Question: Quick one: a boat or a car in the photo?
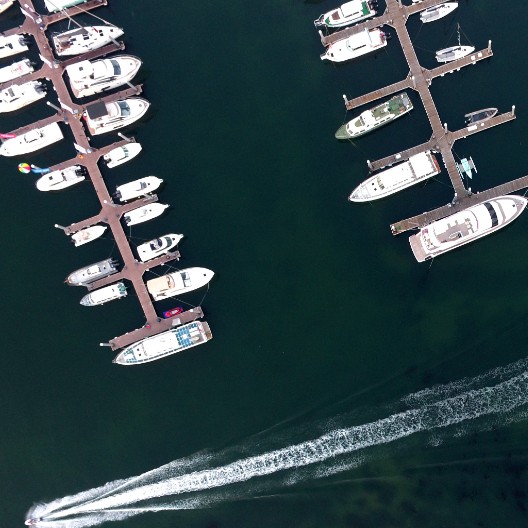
boat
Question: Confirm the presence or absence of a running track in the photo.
No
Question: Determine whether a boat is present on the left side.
Yes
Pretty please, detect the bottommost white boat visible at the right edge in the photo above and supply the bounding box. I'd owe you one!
[412,195,528,261]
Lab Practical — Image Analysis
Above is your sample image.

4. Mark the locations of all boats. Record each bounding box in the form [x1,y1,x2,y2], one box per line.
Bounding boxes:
[71,226,107,246]
[124,204,170,227]
[421,2,458,24]
[463,109,497,126]
[138,233,185,262]
[86,98,151,136]
[109,322,213,365]
[115,178,163,201]
[436,31,475,62]
[0,37,33,59]
[163,305,183,318]
[0,124,67,156]
[105,144,143,169]
[0,81,51,112]
[318,1,378,25]
[79,283,131,305]
[412,195,528,261]
[46,0,84,12]
[48,0,127,57]
[24,517,41,524]
[149,268,214,300]
[350,153,442,200]
[336,92,414,137]
[66,259,121,285]
[0,60,38,81]
[36,167,89,191]
[69,55,143,98]
[322,30,388,60]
